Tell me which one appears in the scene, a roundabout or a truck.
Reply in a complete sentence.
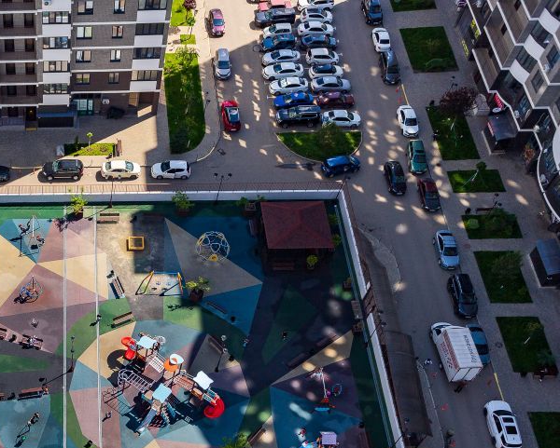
Visible in the photo is a truck.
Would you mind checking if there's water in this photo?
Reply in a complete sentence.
No, the scene doesn't show any water.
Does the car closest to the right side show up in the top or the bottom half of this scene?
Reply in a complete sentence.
It is in the bottom half that the car closest to the right side appears.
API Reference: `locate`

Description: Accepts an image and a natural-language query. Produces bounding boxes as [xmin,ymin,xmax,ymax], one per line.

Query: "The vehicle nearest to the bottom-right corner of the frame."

[486,401,523,448]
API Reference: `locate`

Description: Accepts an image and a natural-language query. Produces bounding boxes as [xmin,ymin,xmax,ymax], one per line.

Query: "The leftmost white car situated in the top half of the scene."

[101,162,140,180]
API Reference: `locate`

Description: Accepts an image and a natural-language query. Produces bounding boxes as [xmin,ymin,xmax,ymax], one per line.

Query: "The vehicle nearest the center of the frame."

[319,156,362,177]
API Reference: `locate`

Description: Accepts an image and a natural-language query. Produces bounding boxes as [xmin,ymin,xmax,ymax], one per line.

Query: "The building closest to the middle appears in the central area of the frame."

[260,199,337,261]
